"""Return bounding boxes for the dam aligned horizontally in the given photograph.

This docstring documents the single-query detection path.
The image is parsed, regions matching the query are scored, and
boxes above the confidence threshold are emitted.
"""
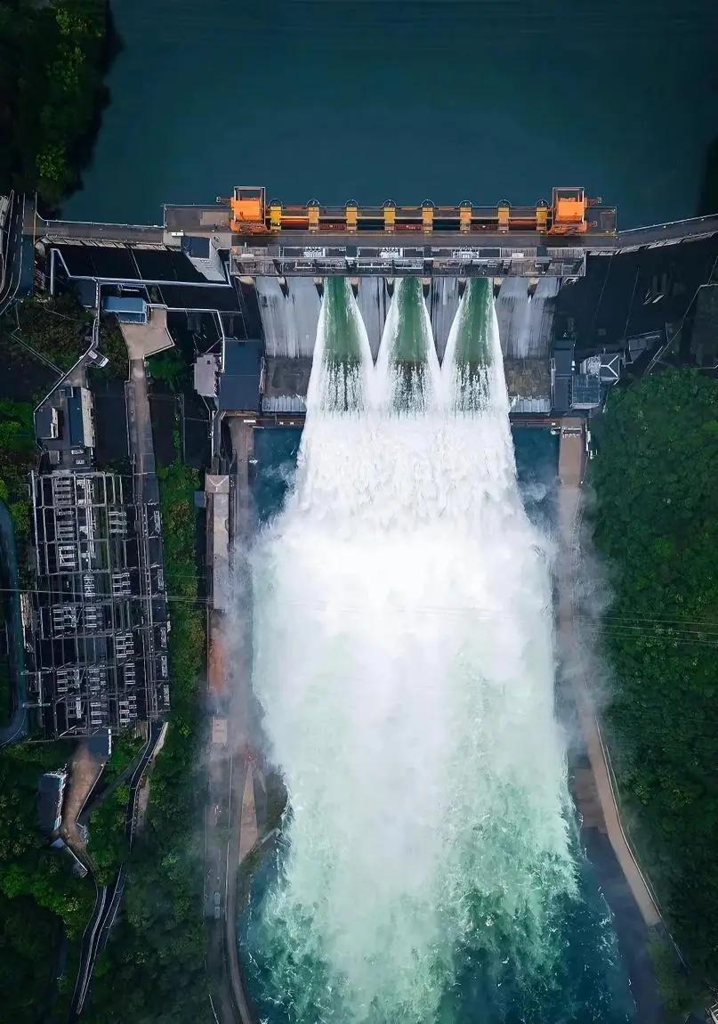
[33,205,718,415]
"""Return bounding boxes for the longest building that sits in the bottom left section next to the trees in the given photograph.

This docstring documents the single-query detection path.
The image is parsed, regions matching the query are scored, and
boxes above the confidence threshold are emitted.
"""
[37,767,71,831]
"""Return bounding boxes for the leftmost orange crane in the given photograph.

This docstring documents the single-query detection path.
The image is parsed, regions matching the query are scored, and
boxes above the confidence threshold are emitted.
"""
[217,187,271,237]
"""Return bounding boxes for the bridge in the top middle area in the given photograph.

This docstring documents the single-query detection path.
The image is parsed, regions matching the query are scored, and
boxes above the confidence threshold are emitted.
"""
[230,249,585,279]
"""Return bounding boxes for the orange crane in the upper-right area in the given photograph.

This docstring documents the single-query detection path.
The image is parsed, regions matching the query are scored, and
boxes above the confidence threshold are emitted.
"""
[542,187,600,237]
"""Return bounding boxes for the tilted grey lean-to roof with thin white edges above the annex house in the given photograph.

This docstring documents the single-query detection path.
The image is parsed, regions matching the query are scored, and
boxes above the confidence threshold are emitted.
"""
[623,332,660,364]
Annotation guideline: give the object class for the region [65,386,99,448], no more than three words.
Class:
building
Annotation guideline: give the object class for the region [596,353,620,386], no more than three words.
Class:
house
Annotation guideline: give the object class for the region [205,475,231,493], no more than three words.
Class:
building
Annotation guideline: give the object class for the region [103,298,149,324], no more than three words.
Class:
house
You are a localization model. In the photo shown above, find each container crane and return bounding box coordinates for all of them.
[217,187,271,237]
[542,187,600,237]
